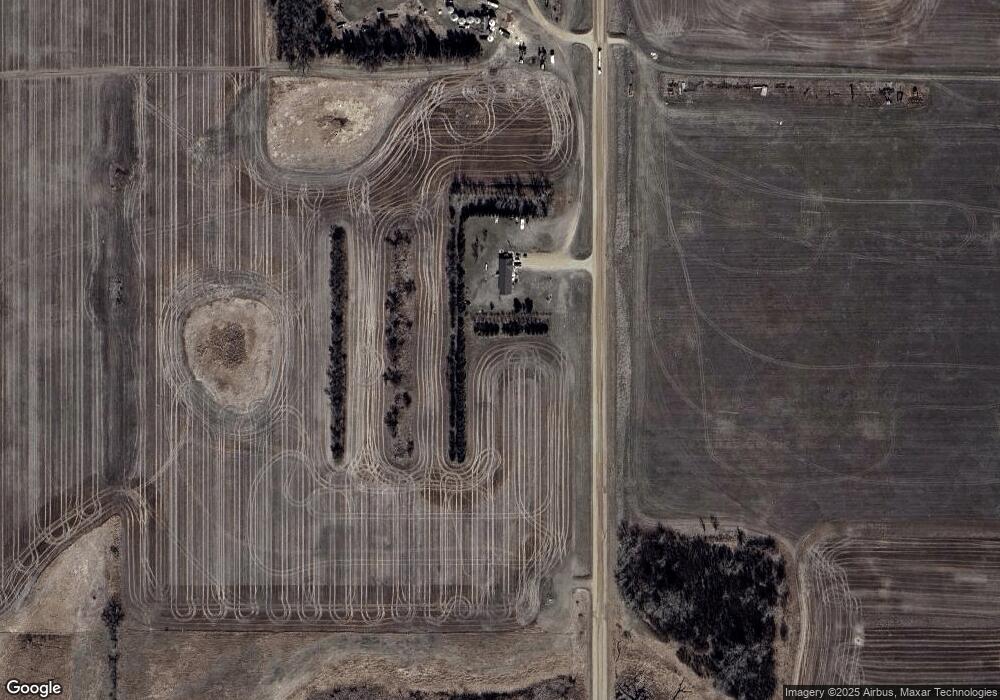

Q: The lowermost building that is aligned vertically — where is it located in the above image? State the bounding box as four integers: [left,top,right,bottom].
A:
[499,260,514,297]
